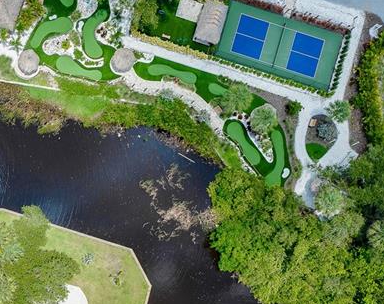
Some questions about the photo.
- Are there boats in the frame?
No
